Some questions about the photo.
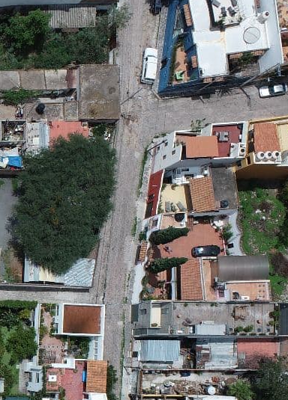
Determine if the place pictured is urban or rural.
urban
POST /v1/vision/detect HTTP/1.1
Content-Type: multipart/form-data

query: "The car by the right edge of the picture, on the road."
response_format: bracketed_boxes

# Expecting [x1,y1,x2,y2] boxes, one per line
[258,82,287,97]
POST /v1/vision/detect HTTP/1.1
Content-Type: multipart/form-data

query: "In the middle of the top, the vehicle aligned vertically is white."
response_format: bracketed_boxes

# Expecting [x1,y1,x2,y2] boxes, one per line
[142,48,158,83]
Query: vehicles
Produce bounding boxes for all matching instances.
[258,82,287,97]
[151,0,164,16]
[142,48,158,83]
[190,244,219,257]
